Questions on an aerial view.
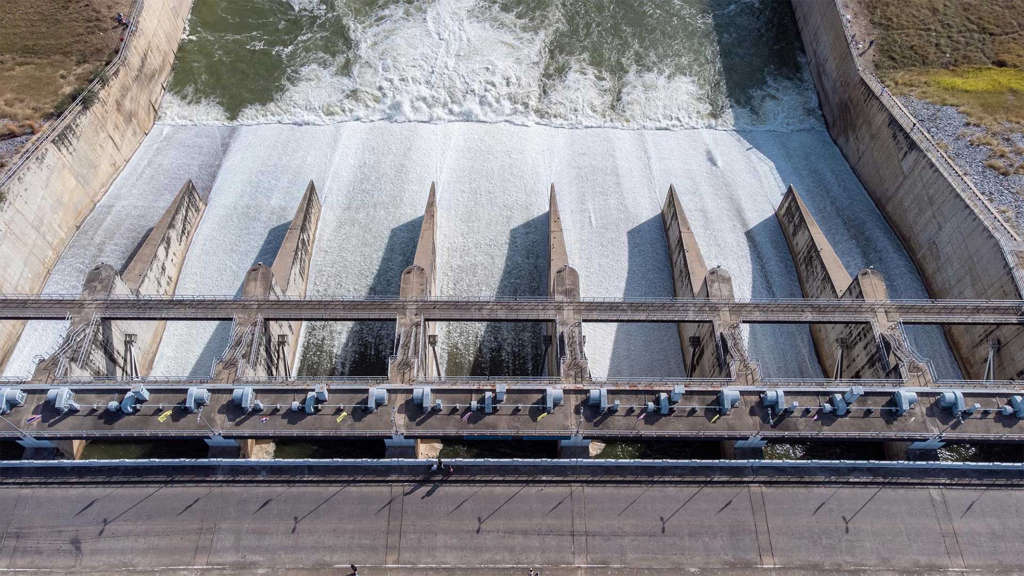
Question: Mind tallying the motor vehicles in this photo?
0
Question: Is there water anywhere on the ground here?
Yes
